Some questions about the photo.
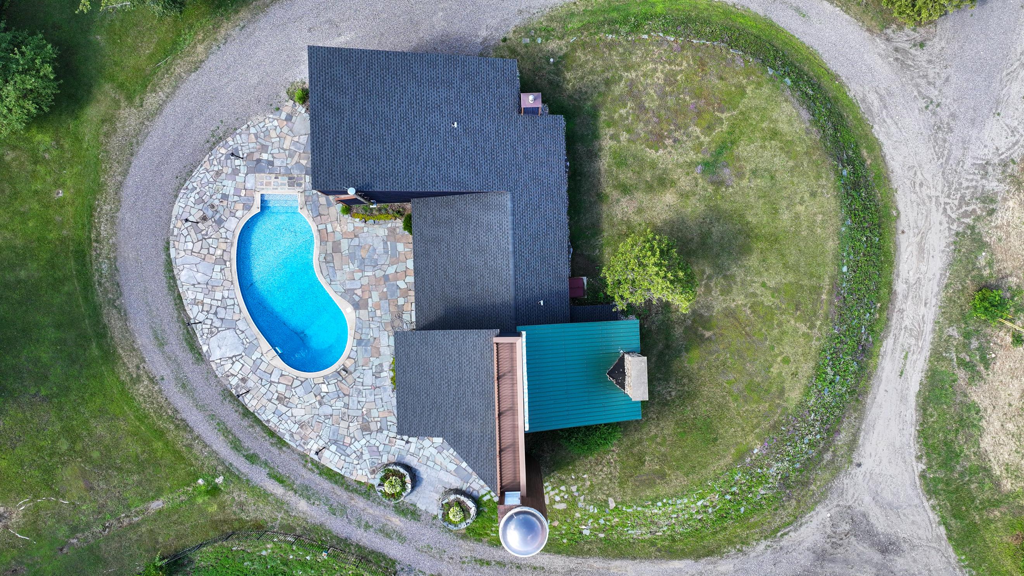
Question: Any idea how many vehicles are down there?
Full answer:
There are no vehicles in the image.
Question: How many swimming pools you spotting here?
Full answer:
The picture shows 1 swimming pool.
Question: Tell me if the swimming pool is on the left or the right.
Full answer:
The swimming pool sits on the left side.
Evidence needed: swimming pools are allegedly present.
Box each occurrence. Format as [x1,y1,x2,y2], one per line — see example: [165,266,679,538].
[228,173,356,380]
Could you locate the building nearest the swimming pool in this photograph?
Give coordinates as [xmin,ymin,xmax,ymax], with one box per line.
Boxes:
[308,46,648,495]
